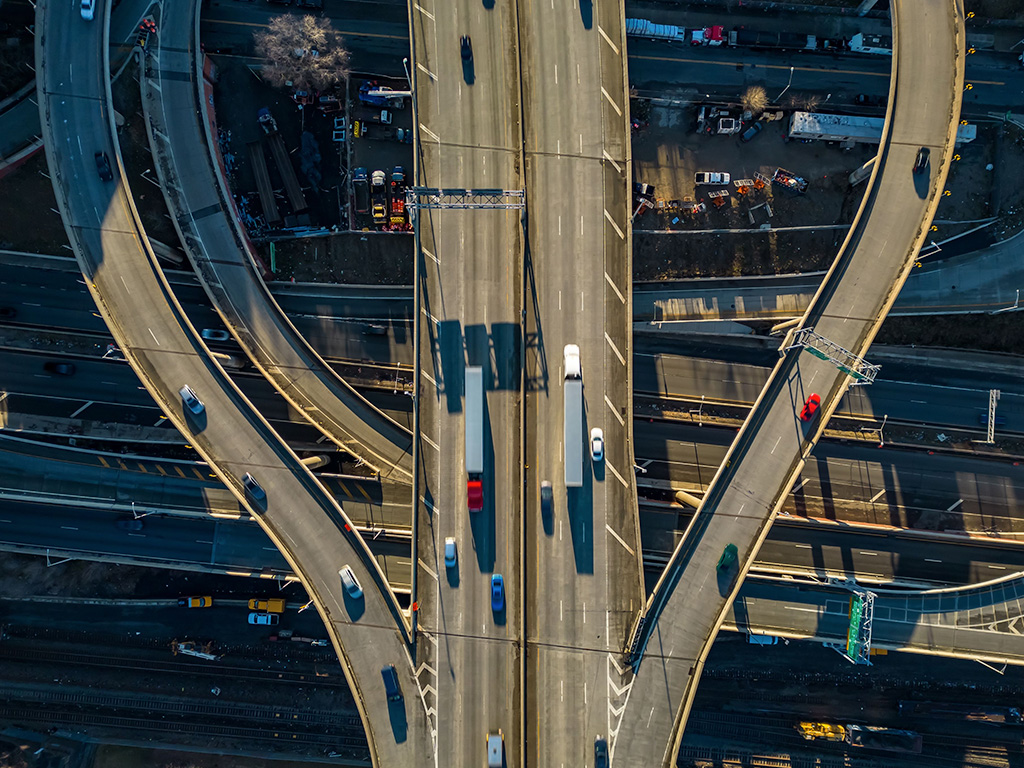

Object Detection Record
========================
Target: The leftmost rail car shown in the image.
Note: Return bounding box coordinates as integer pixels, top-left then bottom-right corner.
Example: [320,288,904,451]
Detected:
[794,721,844,740]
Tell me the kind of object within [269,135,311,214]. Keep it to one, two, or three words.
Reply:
trailer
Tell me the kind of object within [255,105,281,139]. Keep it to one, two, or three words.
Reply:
truck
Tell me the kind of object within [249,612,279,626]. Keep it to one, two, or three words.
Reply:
vehicle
